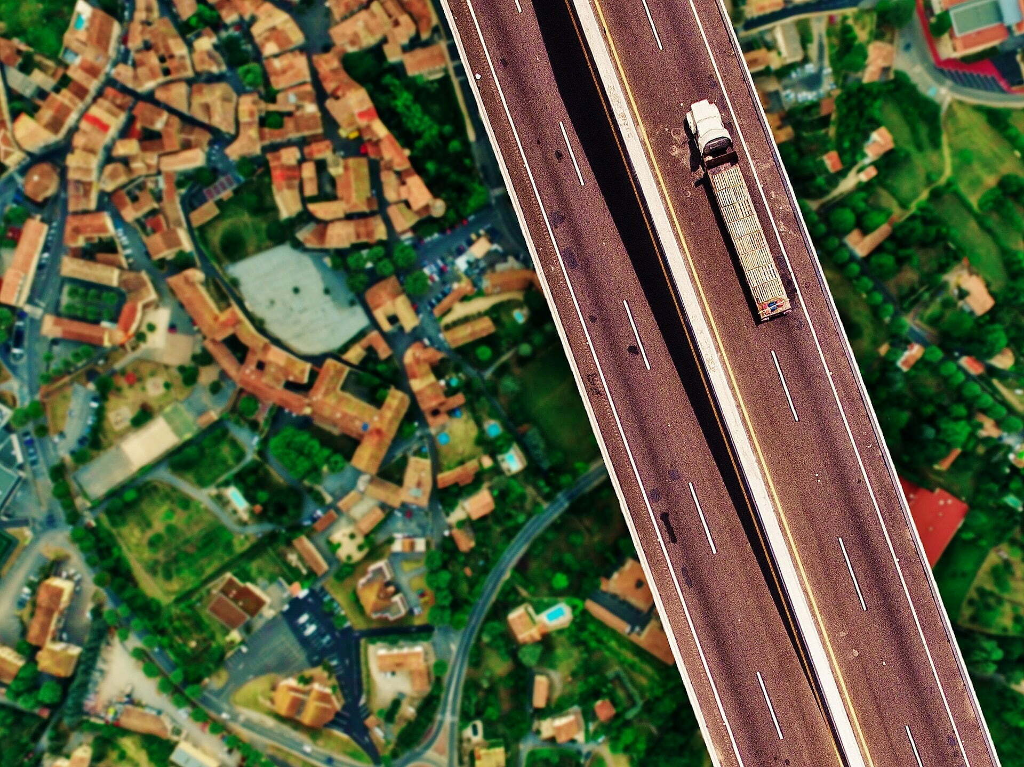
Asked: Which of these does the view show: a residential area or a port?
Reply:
residential area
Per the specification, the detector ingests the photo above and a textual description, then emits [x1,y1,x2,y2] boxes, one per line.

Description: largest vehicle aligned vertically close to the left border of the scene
[14,324,27,350]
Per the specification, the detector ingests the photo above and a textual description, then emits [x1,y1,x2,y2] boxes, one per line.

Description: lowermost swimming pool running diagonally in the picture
[544,605,567,623]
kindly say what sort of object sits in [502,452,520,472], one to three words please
swimming pool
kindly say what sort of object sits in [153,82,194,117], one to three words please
house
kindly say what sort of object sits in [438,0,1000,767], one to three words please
bridge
